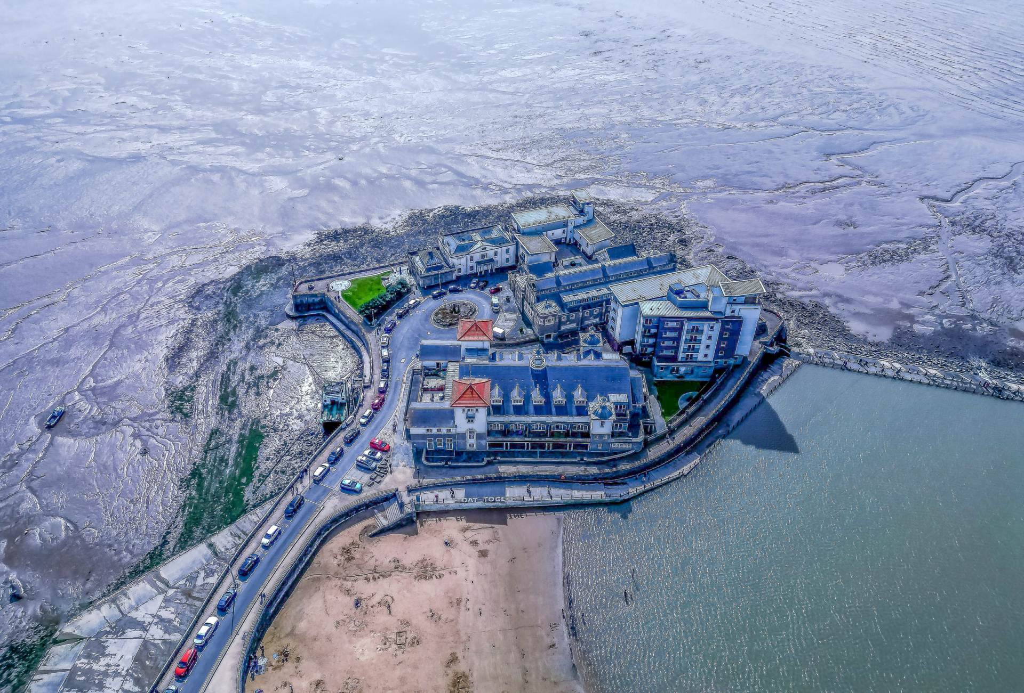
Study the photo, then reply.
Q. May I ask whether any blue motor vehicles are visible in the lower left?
Yes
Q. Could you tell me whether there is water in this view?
Yes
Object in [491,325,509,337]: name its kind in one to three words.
vehicle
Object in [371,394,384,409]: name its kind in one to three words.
vehicle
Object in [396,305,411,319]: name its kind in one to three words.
car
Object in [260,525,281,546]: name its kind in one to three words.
car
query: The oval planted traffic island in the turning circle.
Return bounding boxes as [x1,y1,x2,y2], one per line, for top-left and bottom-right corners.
[432,300,479,327]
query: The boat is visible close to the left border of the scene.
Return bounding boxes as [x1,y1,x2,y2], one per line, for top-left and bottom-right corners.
[36,406,69,428]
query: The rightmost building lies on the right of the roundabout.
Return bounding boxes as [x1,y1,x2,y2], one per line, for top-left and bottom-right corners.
[607,264,766,382]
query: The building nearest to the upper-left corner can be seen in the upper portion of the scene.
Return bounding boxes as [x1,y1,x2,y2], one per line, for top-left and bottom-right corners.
[408,245,455,287]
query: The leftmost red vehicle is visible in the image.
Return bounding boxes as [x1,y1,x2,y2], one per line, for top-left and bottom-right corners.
[173,647,199,678]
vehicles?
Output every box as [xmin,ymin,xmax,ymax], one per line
[357,407,374,425]
[407,296,422,309]
[361,448,385,462]
[237,554,259,576]
[194,616,219,646]
[326,445,345,463]
[488,284,505,293]
[447,284,463,292]
[491,298,500,310]
[378,364,388,379]
[283,495,305,517]
[311,463,331,482]
[260,525,281,546]
[173,647,199,678]
[338,479,364,493]
[369,438,390,452]
[429,289,448,298]
[384,319,397,332]
[355,455,376,470]
[379,333,389,345]
[468,277,479,288]
[214,587,238,615]
[491,325,509,337]
[396,305,411,319]
[371,394,384,409]
[343,428,360,444]
[476,279,489,290]
[380,348,389,362]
